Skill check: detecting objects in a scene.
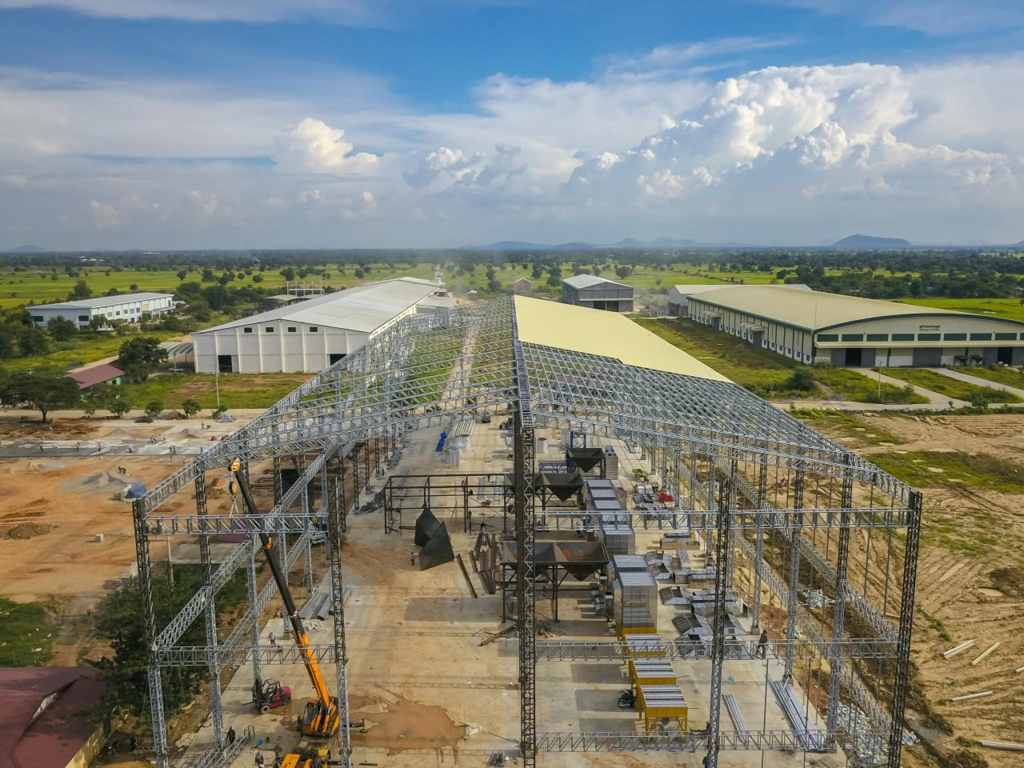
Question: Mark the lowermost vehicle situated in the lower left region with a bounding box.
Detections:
[240,680,295,717]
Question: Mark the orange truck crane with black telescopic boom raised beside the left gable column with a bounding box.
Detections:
[224,454,374,768]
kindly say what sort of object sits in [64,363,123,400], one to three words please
building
